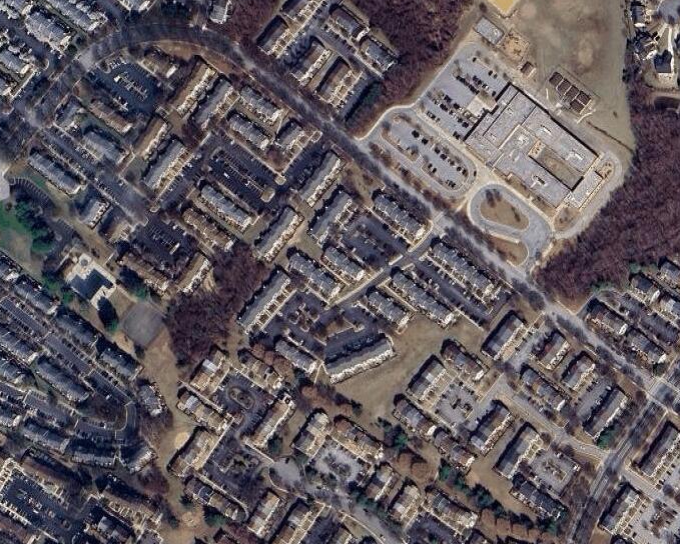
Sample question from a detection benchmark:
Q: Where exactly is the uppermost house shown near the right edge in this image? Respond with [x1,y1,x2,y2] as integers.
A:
[626,2,653,25]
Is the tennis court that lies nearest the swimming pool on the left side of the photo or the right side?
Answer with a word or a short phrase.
left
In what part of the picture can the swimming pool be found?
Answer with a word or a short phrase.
left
